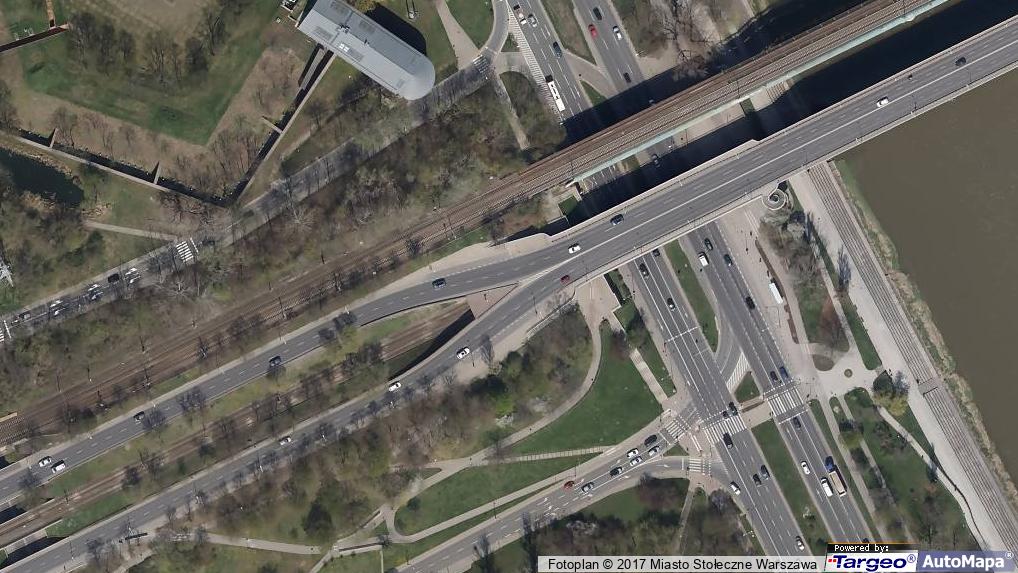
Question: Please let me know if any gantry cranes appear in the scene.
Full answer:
No, there isn't any gantry crane down there.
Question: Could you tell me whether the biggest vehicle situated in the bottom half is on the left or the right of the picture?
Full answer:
The biggest vehicle situated in the bottom half is on the right side of the image.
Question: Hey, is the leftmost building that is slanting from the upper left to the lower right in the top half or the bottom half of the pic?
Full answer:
It is in the top half that the leftmost building that is slanting from the upper left to the lower right appears.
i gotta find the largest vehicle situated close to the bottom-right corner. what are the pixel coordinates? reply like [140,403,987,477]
[826,464,847,496]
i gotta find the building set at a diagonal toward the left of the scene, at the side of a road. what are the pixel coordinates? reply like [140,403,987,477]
[297,0,430,97]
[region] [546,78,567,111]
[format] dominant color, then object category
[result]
white bus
